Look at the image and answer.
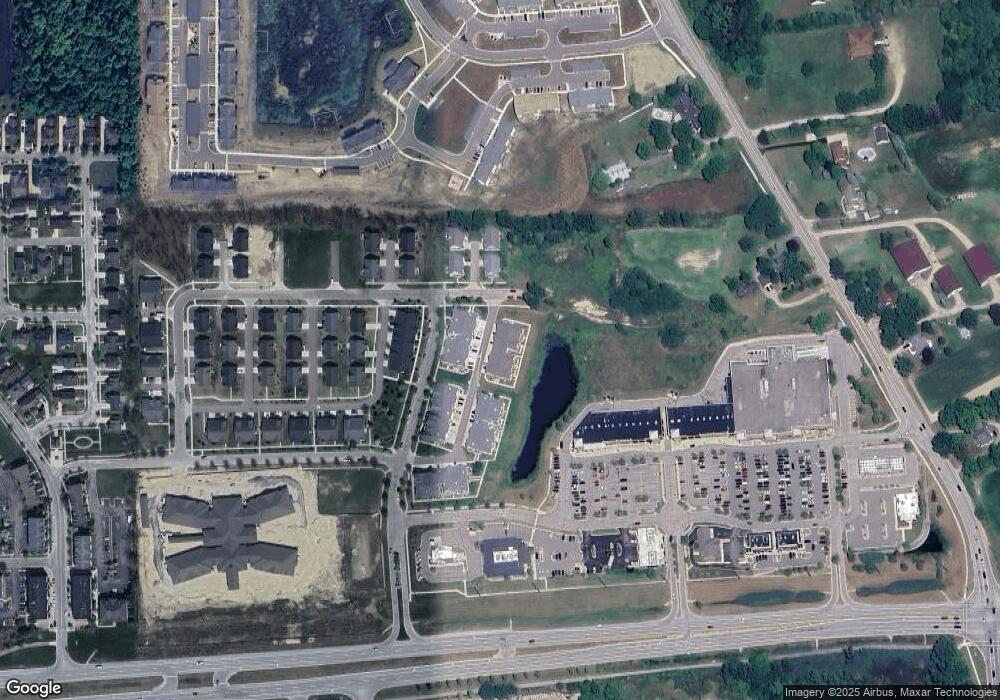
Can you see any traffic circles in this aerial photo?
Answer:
No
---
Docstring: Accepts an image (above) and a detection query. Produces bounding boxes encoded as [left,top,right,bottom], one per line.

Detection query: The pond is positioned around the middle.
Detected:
[513,340,577,479]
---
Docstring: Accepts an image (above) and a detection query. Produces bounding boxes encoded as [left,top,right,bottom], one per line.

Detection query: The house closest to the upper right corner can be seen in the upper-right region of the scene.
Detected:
[848,27,876,58]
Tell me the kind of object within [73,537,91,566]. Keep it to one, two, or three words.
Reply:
building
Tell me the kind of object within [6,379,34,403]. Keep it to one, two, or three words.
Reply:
house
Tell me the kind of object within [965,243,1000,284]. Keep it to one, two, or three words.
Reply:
barn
